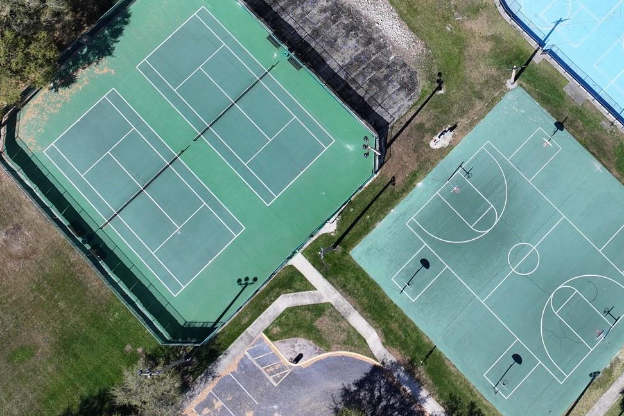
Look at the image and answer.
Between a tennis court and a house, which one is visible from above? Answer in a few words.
tennis court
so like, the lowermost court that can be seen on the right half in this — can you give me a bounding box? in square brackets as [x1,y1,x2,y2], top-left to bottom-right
[349,86,624,416]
